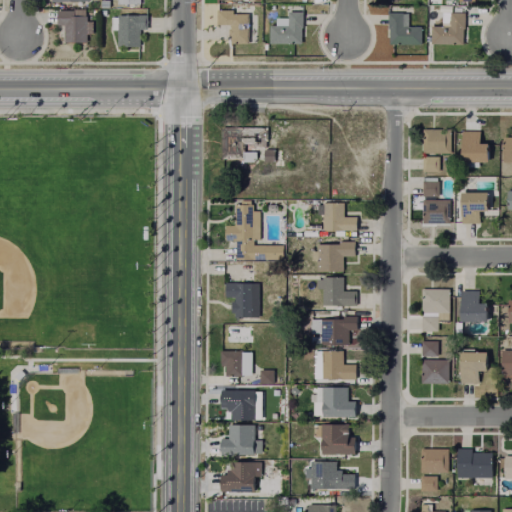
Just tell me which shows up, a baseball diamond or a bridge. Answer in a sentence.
There is a baseball diamond in the scene.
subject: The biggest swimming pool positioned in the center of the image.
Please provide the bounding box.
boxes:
[266,216,280,241]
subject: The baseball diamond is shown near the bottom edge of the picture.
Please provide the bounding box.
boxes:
[20,374,152,508]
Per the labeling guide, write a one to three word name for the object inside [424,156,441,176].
building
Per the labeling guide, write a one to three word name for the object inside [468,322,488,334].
swimming pool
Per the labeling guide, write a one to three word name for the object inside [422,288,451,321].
house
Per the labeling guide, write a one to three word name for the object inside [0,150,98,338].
baseball field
